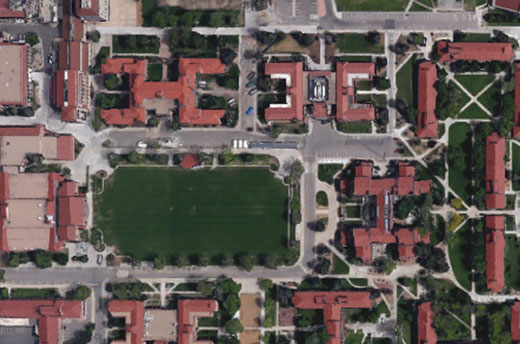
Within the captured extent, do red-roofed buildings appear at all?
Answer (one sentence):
Yes, you can see a red-roofed building in this photo.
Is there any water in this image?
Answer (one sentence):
No, there is no water in the image.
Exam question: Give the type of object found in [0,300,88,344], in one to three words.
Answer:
building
